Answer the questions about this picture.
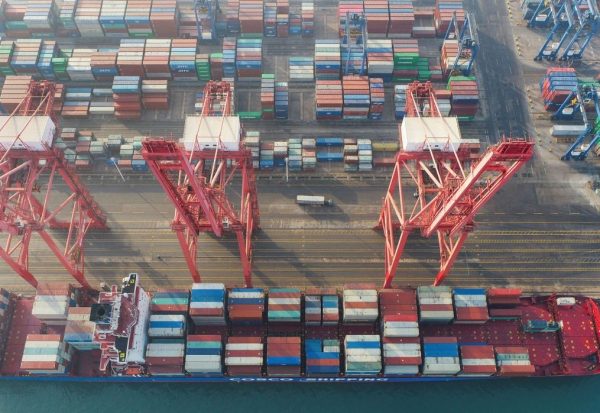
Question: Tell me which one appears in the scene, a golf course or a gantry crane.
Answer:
gantry crane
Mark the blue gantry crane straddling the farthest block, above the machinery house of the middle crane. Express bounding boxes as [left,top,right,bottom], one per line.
[197,0,226,40]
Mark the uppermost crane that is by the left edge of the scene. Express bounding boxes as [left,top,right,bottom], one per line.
[0,77,114,292]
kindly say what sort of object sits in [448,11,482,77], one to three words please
container crane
